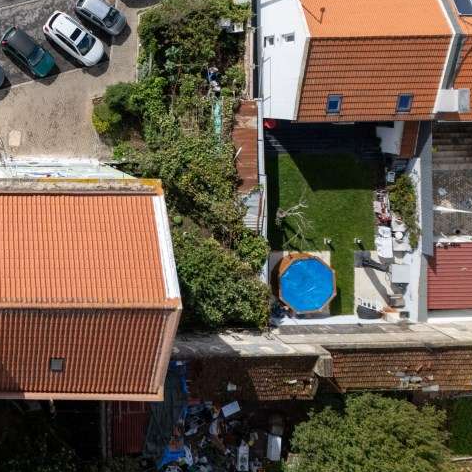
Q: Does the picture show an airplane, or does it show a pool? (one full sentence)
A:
The image shows a pool.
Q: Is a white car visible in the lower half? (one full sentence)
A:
No, I can find no white car in the lower half.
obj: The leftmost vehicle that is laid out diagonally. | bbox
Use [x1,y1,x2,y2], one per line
[0,24,59,80]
